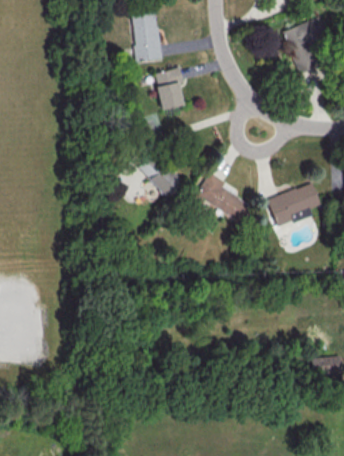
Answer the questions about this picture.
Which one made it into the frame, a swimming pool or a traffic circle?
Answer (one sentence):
It is a swimming pool that can be seen here.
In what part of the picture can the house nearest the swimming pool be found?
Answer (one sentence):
You can find the house nearest the swimming pool in the right area of the picture.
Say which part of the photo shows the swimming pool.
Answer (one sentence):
The swimming pool appears toward the right of the photo.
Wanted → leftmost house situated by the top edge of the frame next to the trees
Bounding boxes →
[132,14,163,64]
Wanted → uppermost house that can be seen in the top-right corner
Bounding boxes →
[282,16,321,70]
